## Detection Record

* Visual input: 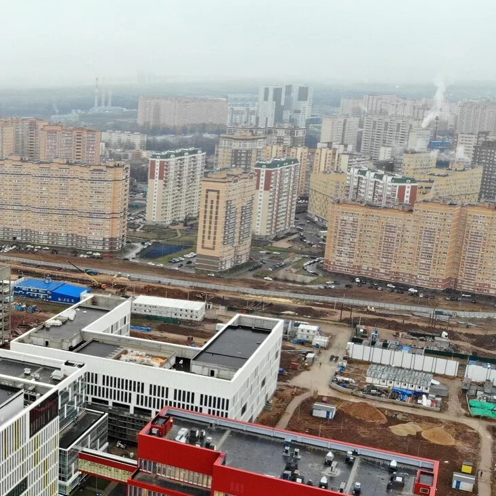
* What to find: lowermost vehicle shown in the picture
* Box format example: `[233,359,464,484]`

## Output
[109,439,139,454]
